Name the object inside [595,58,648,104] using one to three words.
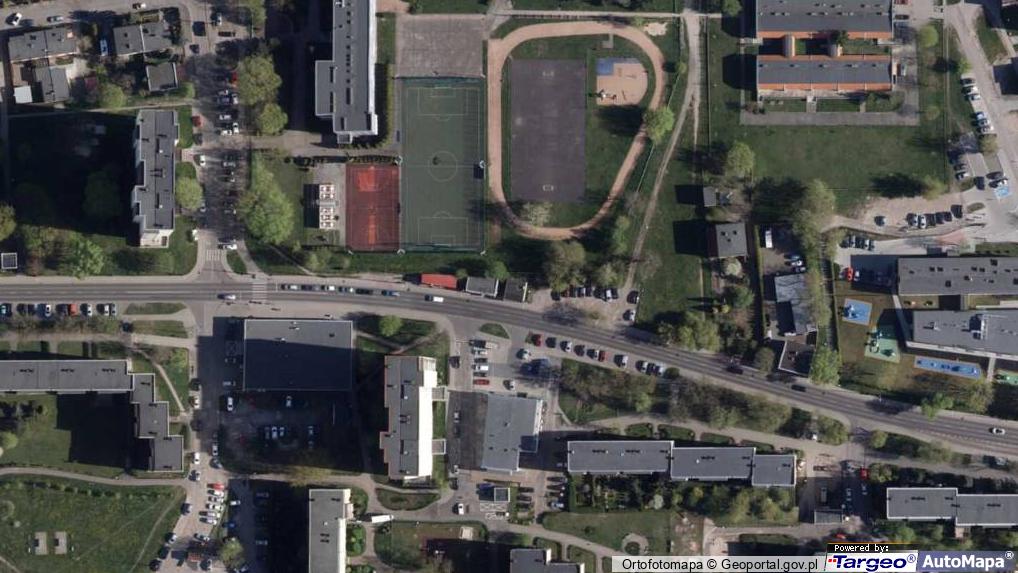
playground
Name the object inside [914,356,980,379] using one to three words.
playground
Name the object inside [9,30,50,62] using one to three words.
house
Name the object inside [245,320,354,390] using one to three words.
building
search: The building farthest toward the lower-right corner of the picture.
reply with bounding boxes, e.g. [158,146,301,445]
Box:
[956,495,1018,528]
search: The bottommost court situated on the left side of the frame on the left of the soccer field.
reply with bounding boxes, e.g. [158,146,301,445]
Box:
[347,164,399,250]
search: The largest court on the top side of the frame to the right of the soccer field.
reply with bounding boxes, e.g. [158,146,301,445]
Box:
[511,60,585,202]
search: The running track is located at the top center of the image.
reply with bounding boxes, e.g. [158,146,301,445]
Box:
[487,21,665,241]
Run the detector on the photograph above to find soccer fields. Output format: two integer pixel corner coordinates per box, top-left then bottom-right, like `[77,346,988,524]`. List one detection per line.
[401,79,486,251]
